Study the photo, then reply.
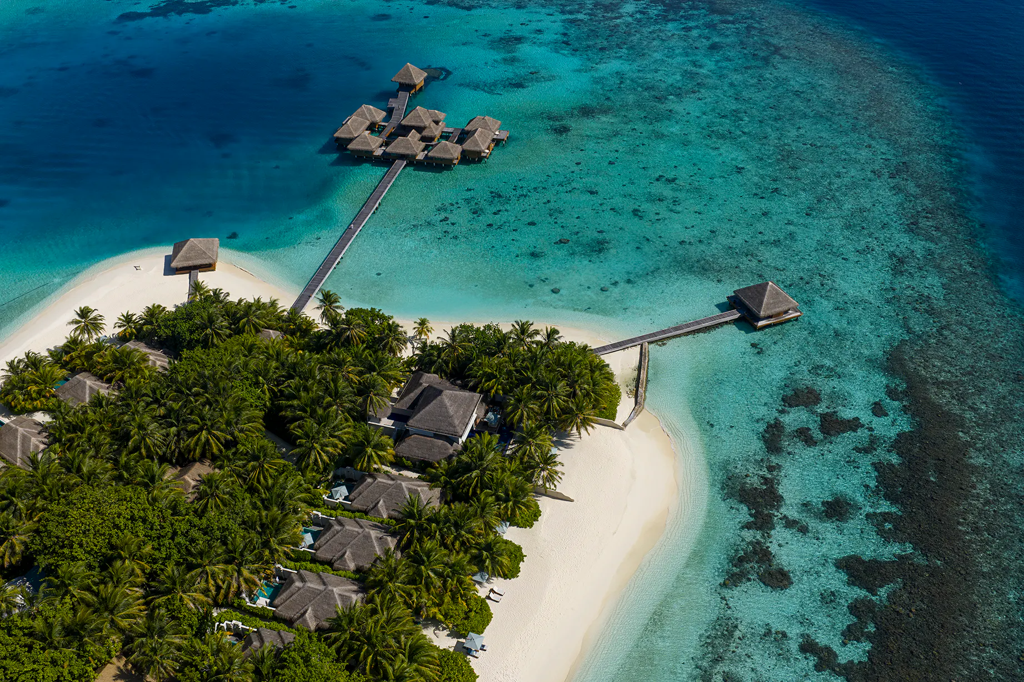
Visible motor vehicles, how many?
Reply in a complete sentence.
Not a single motor vehicle can be seen.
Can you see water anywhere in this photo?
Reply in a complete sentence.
Yes, water shows up in the scene.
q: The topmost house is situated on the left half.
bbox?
[389,63,428,102]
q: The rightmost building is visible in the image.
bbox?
[725,280,804,337]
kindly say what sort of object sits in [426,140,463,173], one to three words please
house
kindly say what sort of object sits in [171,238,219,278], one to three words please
building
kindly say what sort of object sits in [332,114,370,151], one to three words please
house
